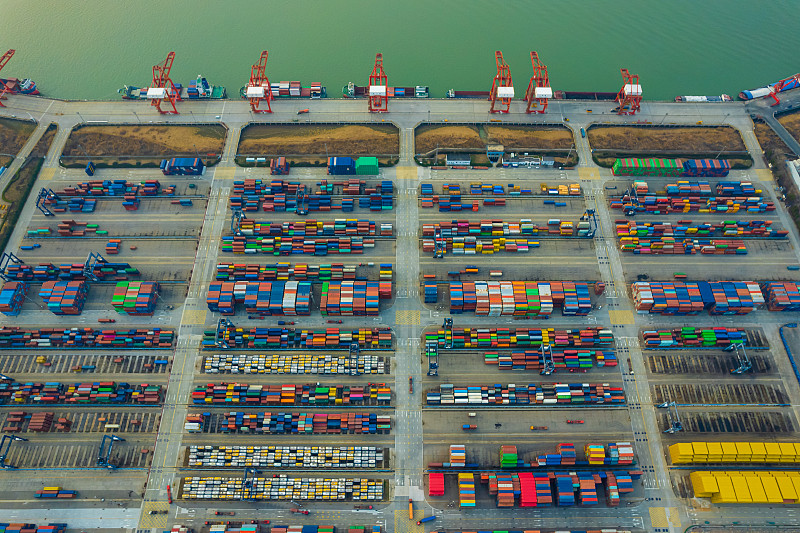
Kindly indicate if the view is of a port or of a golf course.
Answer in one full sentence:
This image shows a port.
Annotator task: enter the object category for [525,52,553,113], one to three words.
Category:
container crane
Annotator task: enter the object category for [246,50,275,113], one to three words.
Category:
container crane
